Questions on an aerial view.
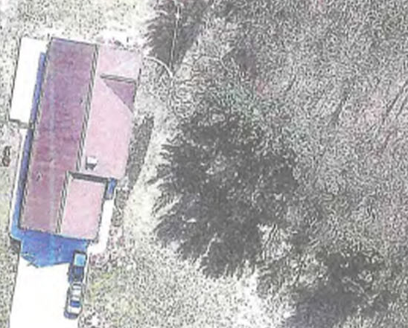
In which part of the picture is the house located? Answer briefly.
left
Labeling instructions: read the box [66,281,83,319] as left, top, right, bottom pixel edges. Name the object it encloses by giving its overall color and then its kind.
white car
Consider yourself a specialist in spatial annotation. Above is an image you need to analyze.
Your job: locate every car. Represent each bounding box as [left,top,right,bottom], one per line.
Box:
[69,251,86,283]
[66,281,83,319]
